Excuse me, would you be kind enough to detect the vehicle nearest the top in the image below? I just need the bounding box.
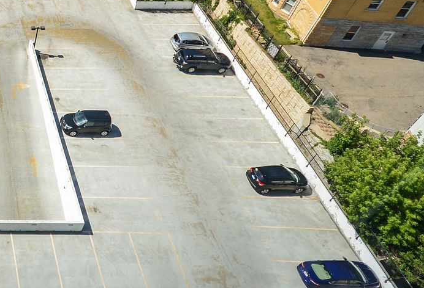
[165,28,219,50]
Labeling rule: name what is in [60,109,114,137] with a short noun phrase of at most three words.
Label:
car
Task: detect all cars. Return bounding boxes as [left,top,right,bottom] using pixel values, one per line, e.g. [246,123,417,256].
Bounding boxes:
[244,164,310,194]
[165,28,219,50]
[292,257,387,288]
[171,45,233,70]
[60,109,114,137]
